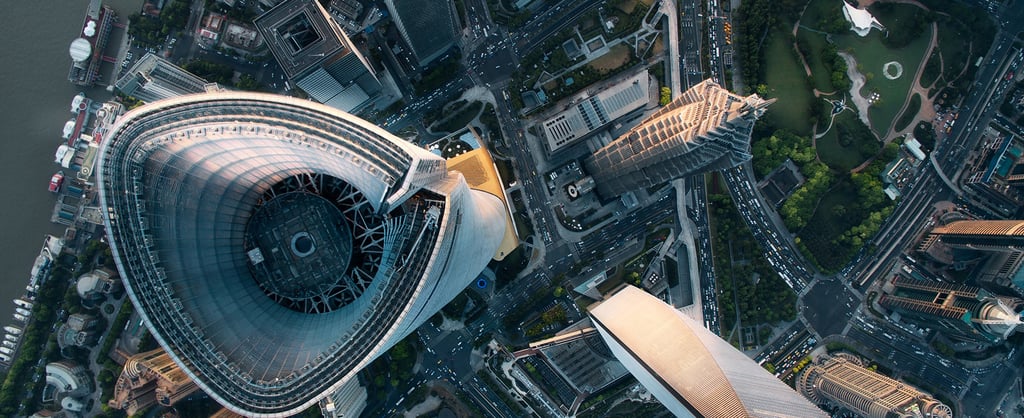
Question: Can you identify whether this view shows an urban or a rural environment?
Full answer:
It looks urban.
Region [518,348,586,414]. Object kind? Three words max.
building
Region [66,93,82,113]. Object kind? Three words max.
ship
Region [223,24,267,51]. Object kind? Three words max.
building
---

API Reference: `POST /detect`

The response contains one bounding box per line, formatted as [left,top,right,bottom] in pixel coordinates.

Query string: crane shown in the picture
[391,203,442,274]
